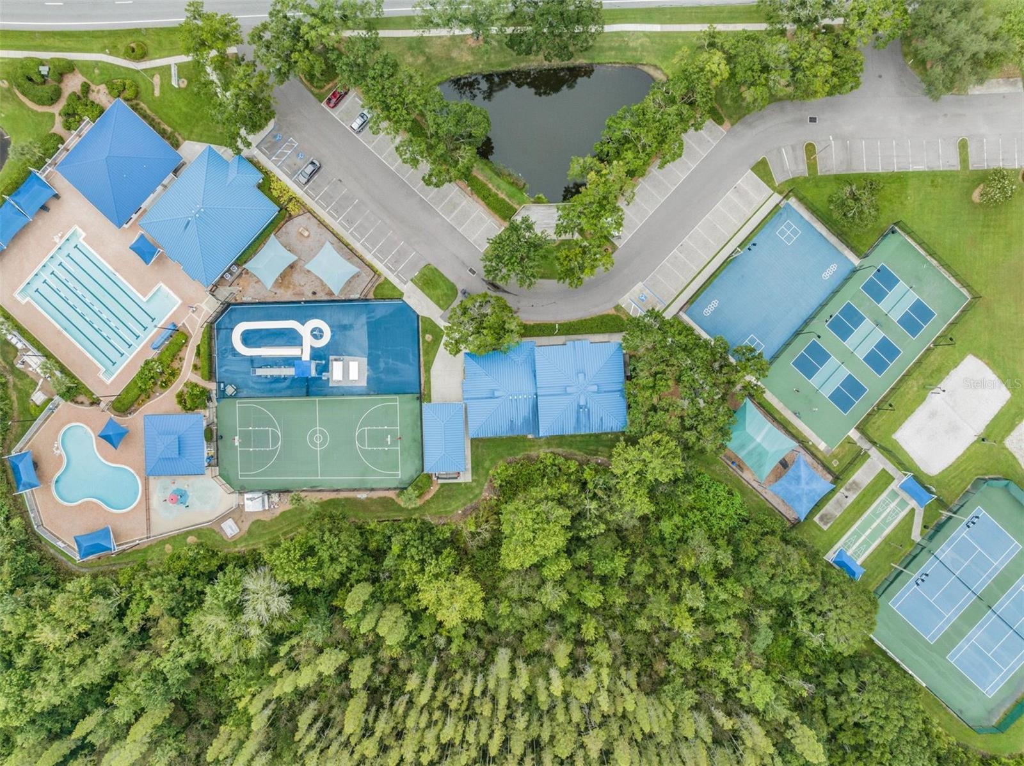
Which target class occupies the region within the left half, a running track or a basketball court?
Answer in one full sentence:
You can see a basketball court within the left half.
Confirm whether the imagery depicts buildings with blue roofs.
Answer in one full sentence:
Yes, the photo shows a building with a blue roof.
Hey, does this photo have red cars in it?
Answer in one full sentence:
Yes, the image includes a red car.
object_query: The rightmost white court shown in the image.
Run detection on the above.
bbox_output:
[1004,421,1024,468]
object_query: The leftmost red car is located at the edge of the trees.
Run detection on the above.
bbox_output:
[324,85,347,110]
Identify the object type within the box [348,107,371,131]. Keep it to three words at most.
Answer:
car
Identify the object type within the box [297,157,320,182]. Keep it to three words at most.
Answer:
car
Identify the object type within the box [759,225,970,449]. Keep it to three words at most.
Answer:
sports court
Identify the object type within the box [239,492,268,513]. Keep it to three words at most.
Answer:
shed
